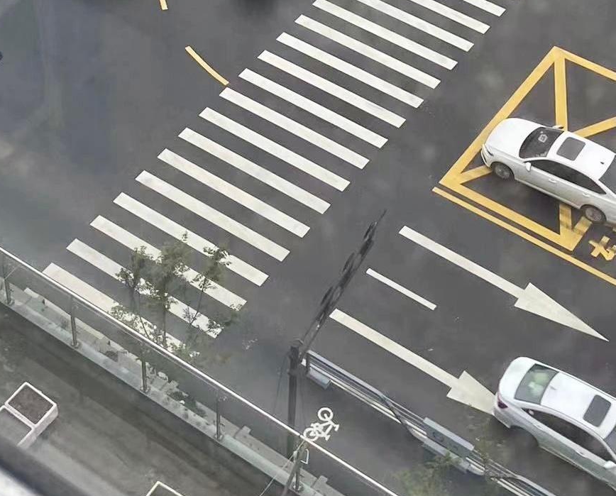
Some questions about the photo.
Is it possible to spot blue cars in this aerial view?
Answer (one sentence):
No, I can't see a single blue car in this photo.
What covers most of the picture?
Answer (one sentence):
The scene is dominated by paved ground.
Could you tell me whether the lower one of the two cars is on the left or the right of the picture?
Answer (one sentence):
The lower one of the two cars appears in the right half of the scene.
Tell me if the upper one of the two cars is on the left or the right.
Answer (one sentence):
The upper one of the two cars appears in the right half of the scene.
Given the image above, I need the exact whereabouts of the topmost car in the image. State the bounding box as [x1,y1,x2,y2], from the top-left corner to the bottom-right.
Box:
[481,116,616,227]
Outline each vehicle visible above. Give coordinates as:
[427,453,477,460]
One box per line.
[481,116,616,227]
[494,352,616,488]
